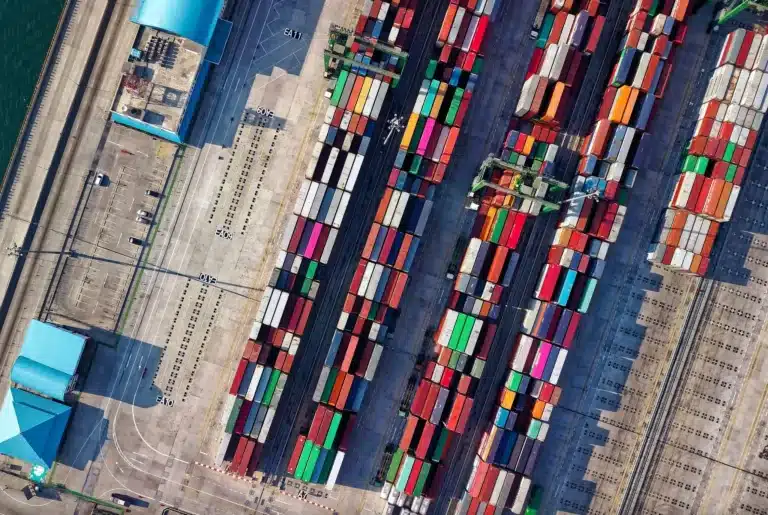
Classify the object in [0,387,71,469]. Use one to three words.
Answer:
building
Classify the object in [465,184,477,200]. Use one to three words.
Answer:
vehicle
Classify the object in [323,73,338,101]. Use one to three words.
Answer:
vehicle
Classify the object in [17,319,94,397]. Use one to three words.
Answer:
building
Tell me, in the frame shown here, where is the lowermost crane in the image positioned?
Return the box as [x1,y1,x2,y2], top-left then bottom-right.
[465,153,568,214]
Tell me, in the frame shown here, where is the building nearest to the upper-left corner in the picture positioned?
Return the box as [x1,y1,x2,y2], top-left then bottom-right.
[109,0,243,142]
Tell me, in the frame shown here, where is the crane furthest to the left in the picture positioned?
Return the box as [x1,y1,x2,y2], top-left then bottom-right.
[322,25,412,97]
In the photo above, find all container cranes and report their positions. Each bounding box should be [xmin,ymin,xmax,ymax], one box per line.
[708,0,768,28]
[322,25,412,97]
[465,153,568,214]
